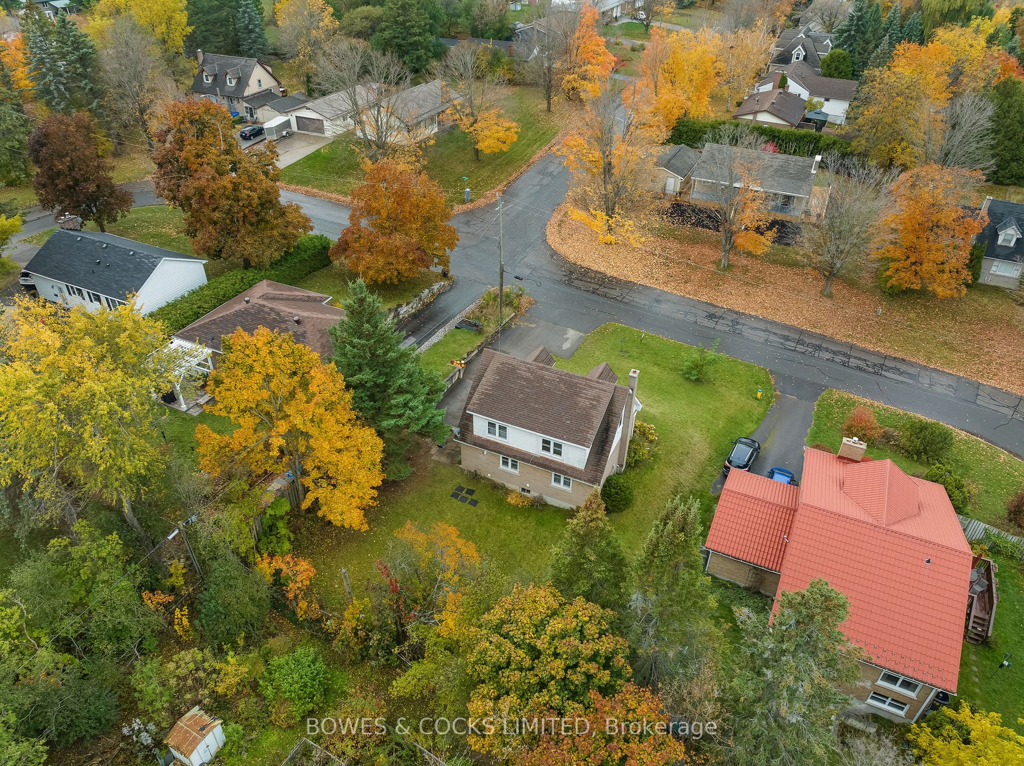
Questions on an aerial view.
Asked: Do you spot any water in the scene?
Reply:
No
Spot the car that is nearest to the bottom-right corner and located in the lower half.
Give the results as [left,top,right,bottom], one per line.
[766,462,799,481]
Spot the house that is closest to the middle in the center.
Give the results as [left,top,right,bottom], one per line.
[449,342,646,510]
